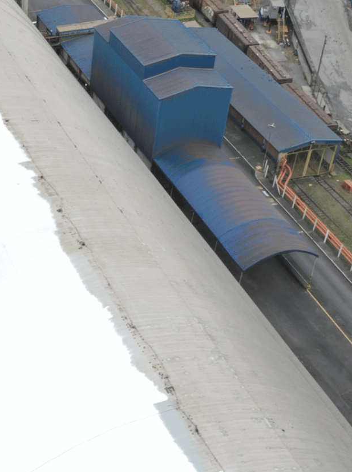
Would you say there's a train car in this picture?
Yes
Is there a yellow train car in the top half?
No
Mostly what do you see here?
buildings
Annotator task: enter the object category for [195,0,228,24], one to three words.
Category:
rail car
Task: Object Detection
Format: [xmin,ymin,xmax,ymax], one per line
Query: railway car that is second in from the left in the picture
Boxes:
[215,12,261,56]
